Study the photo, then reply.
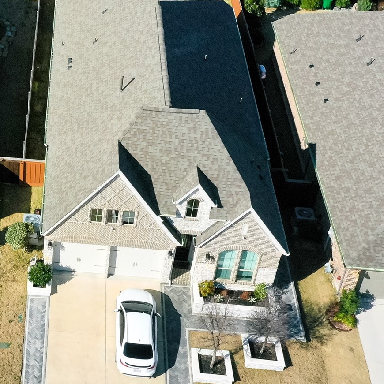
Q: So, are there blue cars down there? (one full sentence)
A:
No, there is no blue car in the image.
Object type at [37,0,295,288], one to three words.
house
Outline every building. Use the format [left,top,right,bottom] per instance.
[37,0,295,288]
[271,9,384,300]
